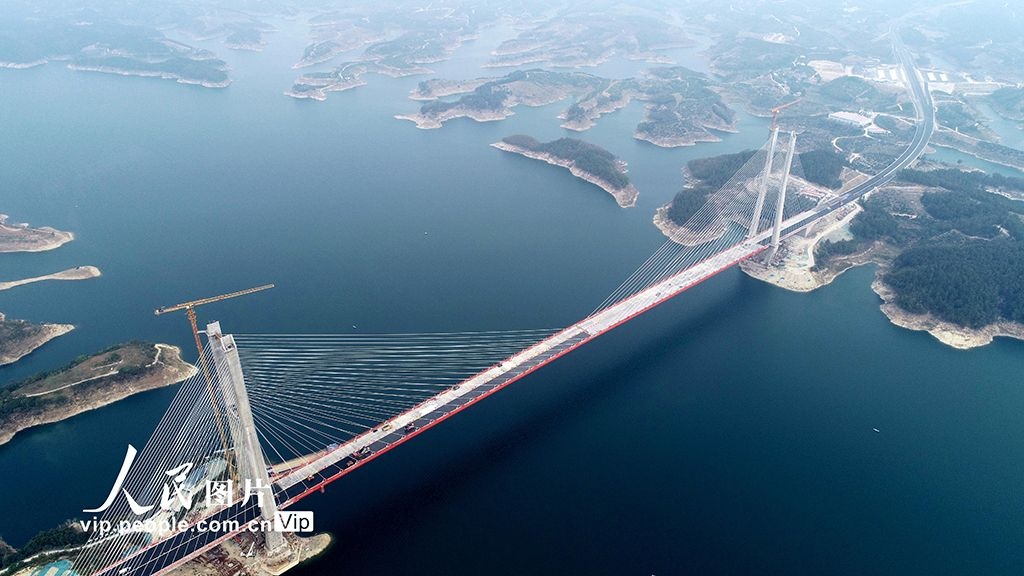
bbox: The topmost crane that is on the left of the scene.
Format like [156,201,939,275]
[154,285,274,528]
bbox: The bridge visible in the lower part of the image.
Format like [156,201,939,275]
[78,128,820,576]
